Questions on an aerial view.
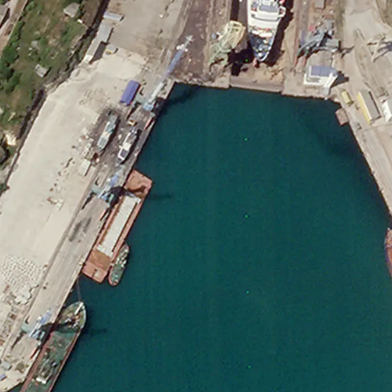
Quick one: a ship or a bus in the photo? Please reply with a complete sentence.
Of the two, only a ship appears.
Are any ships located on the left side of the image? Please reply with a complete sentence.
Yes, I can see a ship on the left side of the image.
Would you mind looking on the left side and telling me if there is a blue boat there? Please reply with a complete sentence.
No, no blue boat can be made out on the left side.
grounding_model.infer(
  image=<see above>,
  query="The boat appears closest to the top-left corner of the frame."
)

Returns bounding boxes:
[100,114,119,151]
